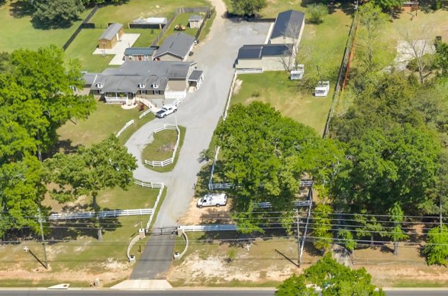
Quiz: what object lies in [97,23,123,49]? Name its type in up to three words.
shed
